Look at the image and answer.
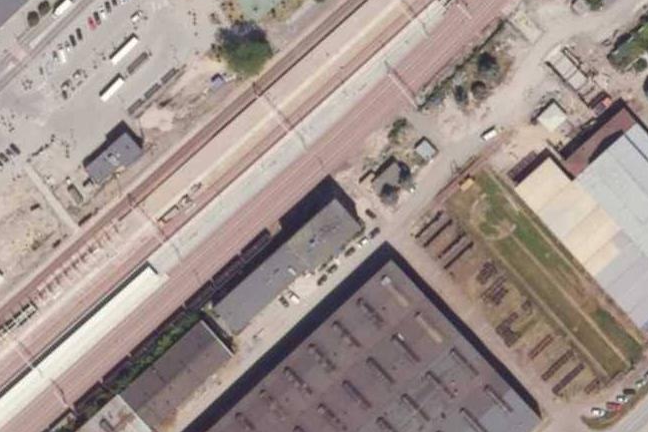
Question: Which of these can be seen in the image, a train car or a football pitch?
train car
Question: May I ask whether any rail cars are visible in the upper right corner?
No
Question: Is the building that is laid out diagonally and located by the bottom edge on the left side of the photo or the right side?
left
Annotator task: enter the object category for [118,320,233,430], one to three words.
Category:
building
